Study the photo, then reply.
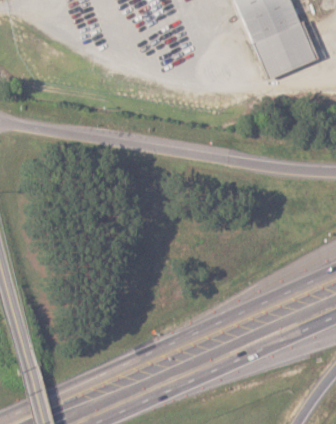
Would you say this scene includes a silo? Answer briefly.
No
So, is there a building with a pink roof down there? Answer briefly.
No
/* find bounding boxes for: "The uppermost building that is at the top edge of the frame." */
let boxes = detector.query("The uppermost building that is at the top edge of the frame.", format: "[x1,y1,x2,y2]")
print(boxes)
[232,0,302,42]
